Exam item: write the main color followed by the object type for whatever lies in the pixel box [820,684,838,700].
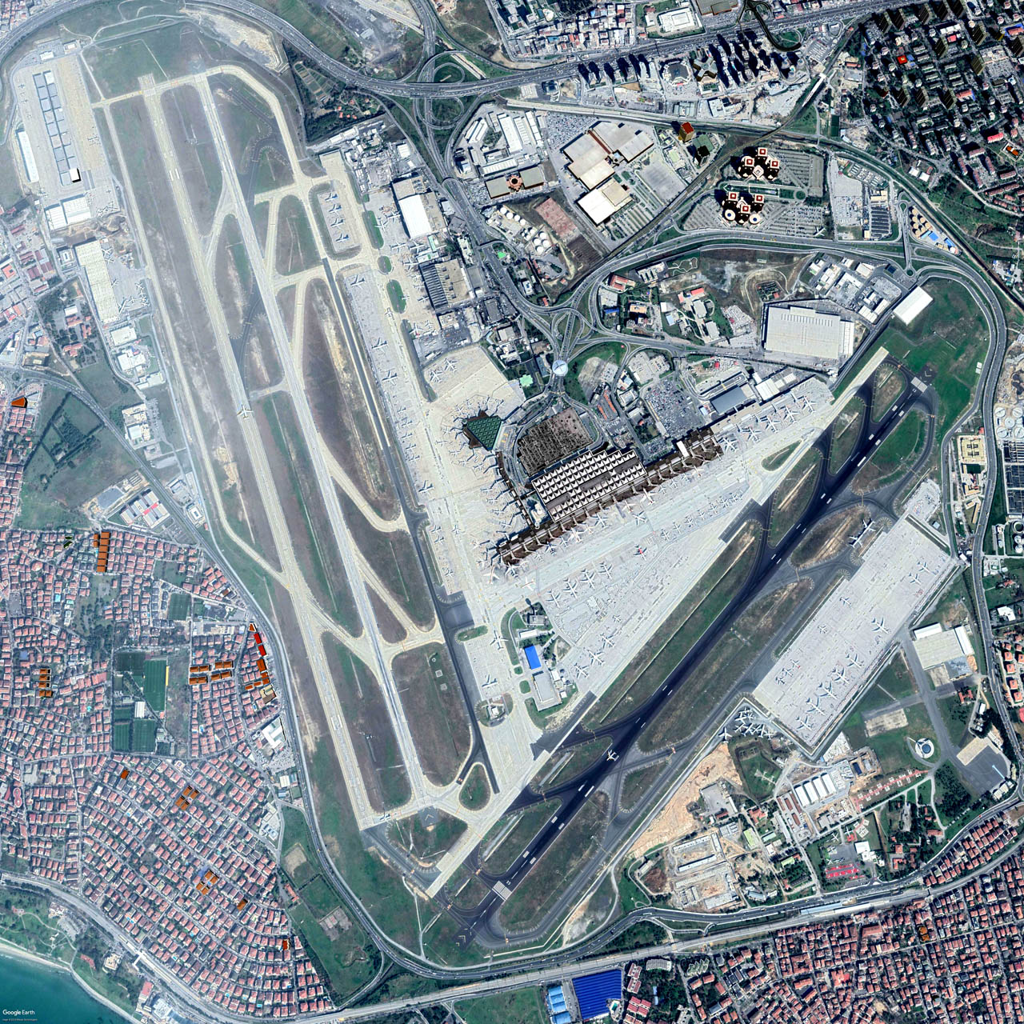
white airplane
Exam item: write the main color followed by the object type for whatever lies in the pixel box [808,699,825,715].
white airplane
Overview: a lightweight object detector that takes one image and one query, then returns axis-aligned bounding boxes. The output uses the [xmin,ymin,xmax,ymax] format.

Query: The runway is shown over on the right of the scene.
[491,375,929,900]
